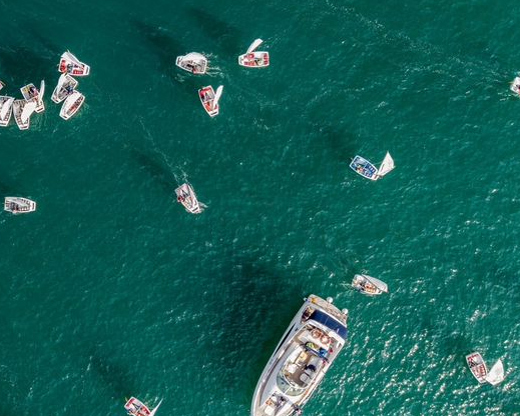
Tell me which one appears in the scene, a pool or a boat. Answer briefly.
boat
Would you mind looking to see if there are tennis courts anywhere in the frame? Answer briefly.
No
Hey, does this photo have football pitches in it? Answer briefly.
No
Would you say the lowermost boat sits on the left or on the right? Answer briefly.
left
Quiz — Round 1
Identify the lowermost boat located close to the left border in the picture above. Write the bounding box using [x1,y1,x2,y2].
[2,194,37,213]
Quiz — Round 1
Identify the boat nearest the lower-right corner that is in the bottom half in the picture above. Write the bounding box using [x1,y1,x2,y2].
[464,348,507,387]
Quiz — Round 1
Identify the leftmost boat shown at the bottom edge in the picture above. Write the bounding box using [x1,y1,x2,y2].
[124,394,164,416]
